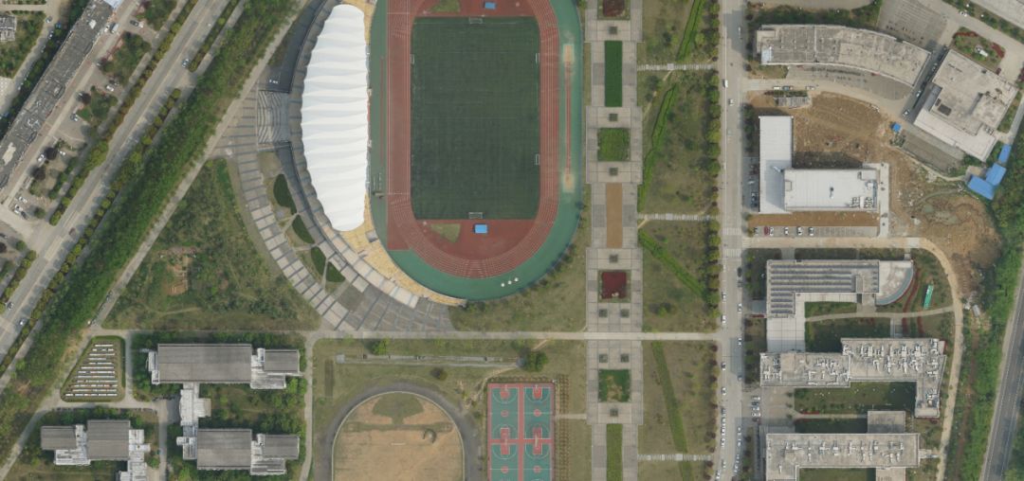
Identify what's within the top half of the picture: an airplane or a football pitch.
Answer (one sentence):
You can see a football pitch within the top half of the picture.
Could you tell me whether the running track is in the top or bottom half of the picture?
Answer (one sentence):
You can find the running track in the top half.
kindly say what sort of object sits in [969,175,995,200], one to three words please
shed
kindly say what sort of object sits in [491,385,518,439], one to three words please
basketball court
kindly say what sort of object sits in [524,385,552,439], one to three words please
basketball court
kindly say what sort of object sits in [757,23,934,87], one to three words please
building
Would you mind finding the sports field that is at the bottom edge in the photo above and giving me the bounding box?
[314,381,482,481]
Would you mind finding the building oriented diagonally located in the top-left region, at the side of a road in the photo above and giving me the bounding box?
[0,0,123,188]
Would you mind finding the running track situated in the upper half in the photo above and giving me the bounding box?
[370,0,582,301]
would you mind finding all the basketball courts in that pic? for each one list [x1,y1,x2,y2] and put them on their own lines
[524,385,552,439]
[524,444,552,481]
[491,385,518,439]
[491,444,518,481]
